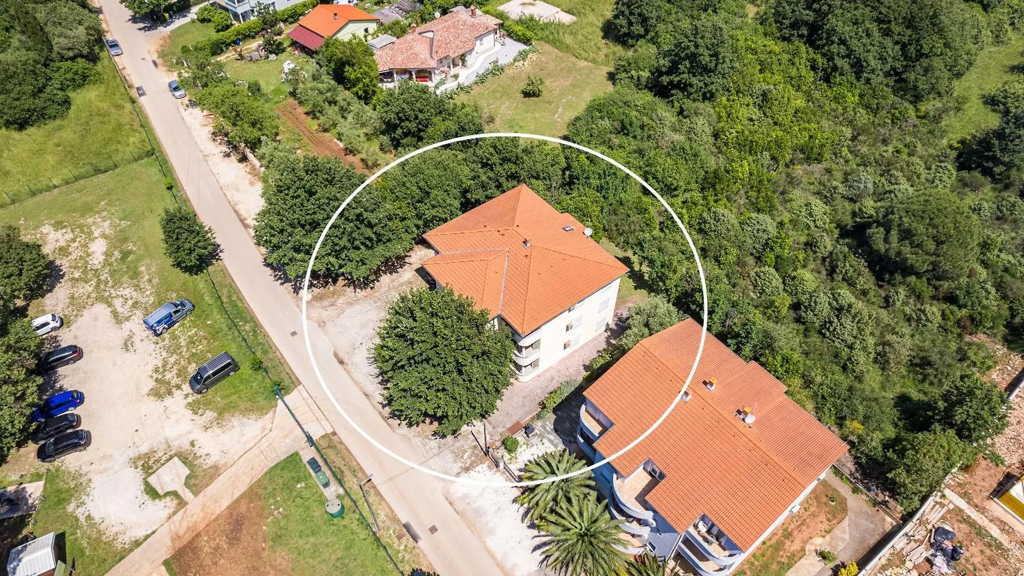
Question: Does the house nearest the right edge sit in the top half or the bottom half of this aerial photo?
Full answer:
Seen from above, the house nearest the right edge lies in the bottom half of the view.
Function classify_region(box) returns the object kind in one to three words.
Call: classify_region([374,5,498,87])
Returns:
house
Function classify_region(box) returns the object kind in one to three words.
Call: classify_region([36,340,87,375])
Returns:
car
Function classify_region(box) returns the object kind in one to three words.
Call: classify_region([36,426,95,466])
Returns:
car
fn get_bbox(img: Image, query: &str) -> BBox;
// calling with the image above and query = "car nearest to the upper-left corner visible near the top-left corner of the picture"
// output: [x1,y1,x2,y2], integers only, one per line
[105,37,124,57]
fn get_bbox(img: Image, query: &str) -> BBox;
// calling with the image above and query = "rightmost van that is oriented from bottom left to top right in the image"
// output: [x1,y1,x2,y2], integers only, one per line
[188,348,240,395]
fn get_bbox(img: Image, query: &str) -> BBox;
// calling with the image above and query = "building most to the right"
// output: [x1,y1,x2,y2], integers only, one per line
[573,316,850,576]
